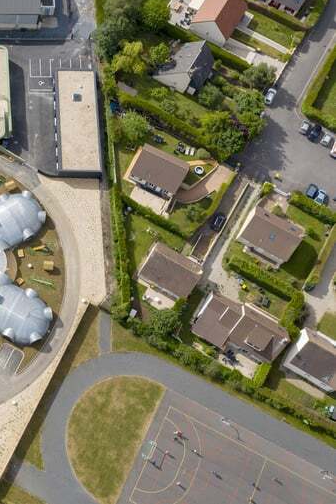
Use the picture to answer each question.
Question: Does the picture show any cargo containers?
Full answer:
No, the picture doesn't show any cargo container.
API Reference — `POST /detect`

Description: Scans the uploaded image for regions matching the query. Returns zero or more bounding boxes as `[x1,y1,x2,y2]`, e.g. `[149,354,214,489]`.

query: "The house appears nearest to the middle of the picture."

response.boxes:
[136,241,204,300]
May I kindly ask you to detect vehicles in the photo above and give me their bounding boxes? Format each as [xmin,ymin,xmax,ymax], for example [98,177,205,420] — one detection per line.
[318,133,333,148]
[308,125,322,141]
[327,143,336,158]
[314,189,329,206]
[264,89,277,104]
[298,120,312,135]
[304,183,318,199]
[211,212,227,232]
